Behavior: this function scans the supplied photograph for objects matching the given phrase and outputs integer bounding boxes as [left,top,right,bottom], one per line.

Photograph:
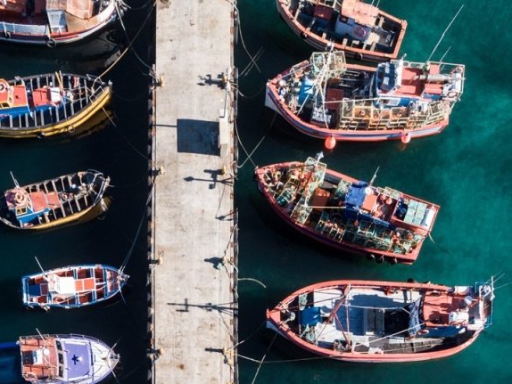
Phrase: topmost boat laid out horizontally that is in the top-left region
[0,0,120,50]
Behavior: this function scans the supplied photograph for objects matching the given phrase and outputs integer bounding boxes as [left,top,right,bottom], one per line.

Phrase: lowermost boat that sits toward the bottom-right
[266,271,511,364]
